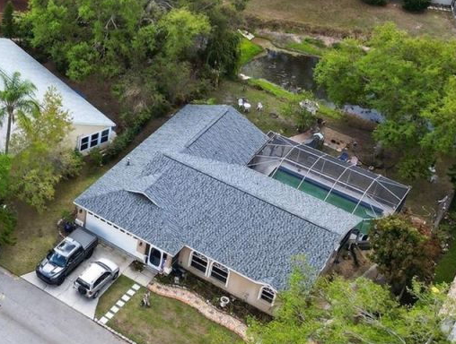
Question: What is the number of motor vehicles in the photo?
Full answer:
The count of motor vehicles comes to 2.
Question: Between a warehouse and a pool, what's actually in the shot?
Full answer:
It is a pool that can be seen here.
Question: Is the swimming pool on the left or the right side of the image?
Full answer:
It is on the right.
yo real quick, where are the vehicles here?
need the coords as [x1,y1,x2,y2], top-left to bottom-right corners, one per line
[72,247,124,292]
[37,221,109,277]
